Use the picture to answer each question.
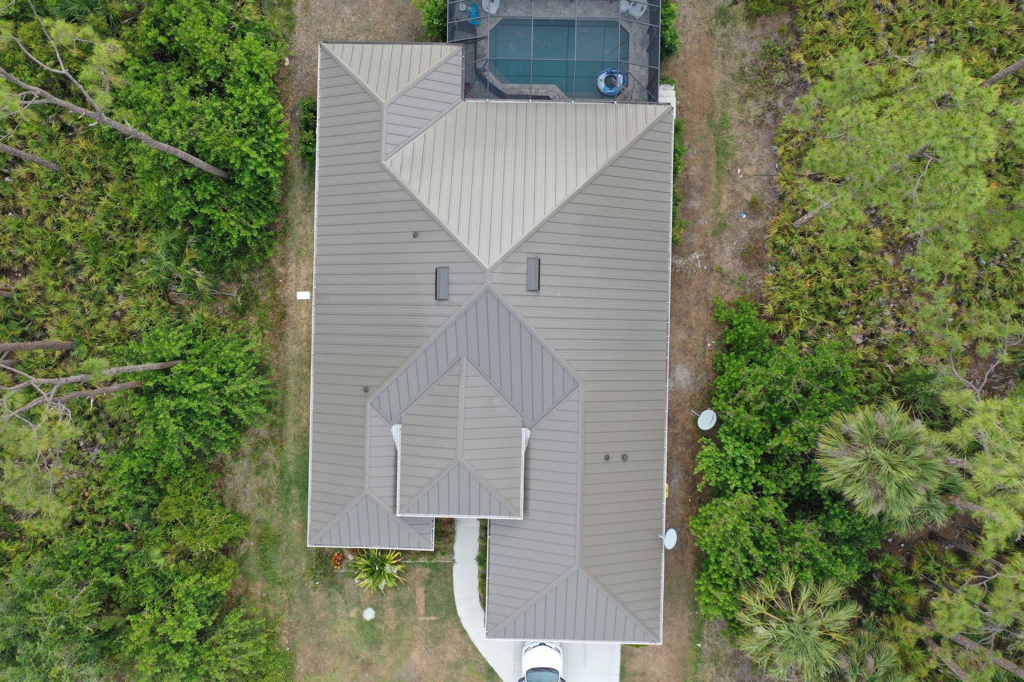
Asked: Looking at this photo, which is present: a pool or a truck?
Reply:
pool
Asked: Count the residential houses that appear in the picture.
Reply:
1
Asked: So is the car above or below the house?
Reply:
below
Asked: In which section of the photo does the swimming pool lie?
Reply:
top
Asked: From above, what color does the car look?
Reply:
white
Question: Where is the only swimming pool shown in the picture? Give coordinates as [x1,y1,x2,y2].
[483,11,635,101]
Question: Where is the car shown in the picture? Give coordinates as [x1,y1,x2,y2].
[518,641,567,682]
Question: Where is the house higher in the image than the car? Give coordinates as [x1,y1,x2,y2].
[307,40,674,644]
